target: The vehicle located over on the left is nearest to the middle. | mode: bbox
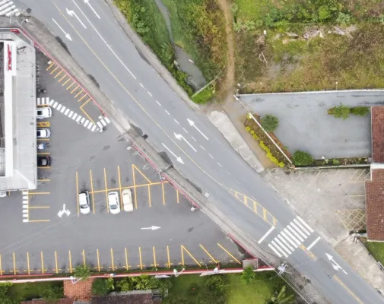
[122,189,135,211]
